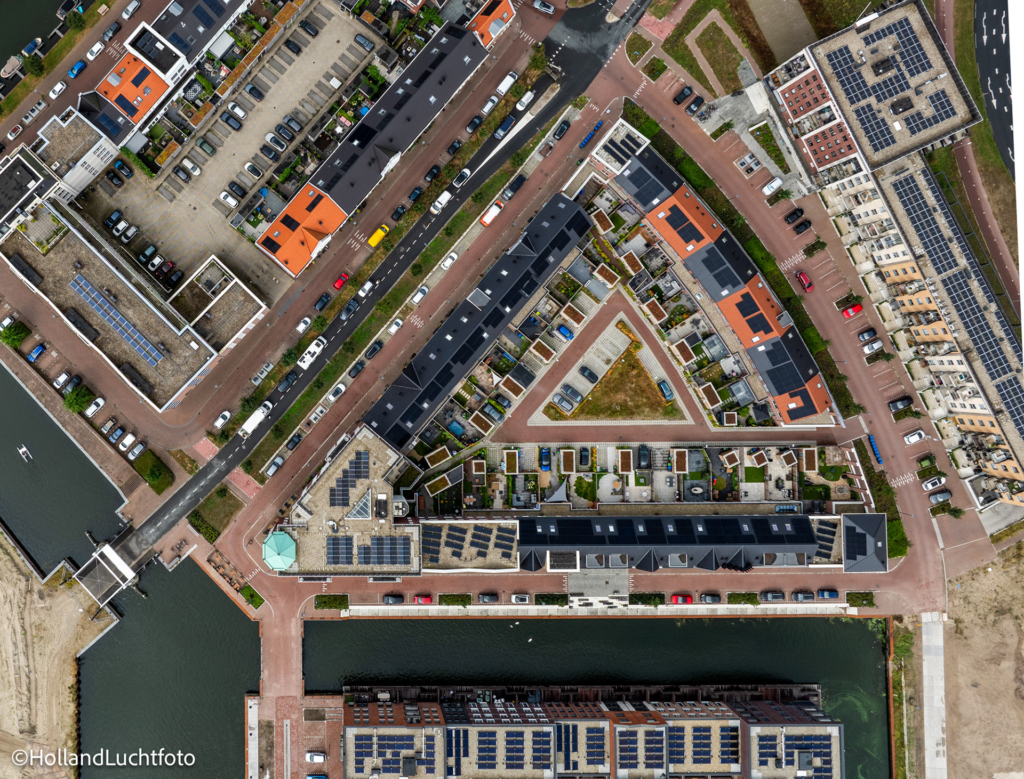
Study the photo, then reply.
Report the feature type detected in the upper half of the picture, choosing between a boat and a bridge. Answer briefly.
boat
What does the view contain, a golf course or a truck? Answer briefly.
truck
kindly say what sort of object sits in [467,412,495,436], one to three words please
shed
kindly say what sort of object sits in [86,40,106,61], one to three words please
car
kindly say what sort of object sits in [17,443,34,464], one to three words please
boat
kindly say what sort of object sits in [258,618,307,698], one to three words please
bridge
